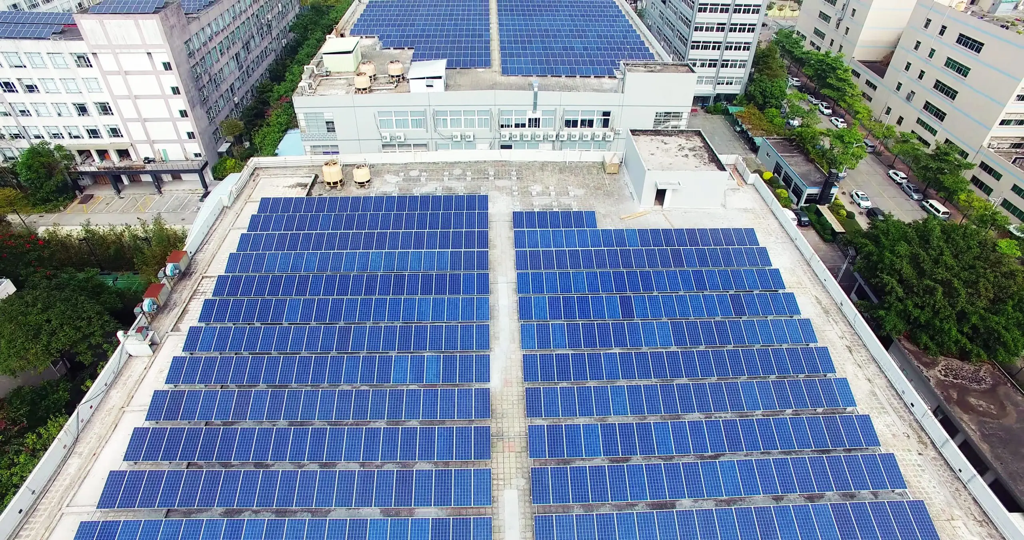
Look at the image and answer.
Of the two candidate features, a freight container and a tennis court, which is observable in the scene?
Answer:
tennis court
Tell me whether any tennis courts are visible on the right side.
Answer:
No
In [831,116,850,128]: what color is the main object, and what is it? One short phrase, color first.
white vehicle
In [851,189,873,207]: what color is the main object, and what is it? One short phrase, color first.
white car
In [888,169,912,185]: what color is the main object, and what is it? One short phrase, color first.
white car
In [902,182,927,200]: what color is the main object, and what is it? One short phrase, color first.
gray car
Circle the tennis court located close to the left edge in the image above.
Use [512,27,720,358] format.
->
[18,269,156,312]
